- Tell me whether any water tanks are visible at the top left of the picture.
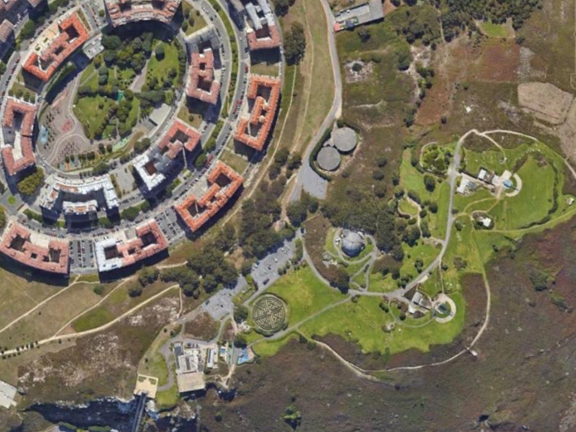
No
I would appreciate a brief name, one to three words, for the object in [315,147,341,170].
water tank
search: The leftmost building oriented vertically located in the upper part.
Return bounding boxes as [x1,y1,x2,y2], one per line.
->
[1,96,38,175]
